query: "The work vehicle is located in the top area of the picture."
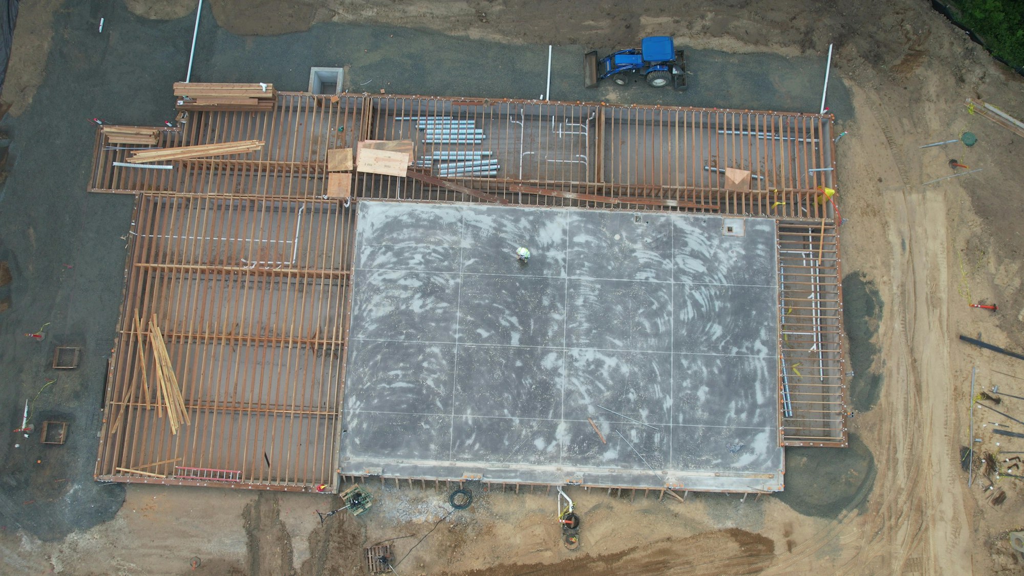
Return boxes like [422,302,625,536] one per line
[584,38,687,90]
